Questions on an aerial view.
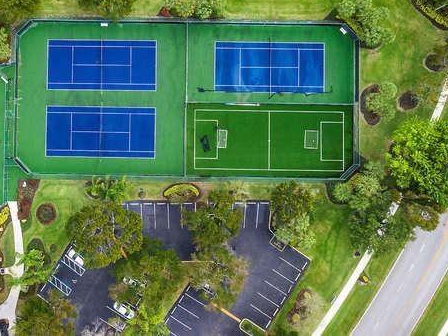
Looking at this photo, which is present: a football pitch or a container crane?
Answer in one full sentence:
The image shows a football pitch.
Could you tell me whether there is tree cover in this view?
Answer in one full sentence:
Yes, there's tree cover in this view.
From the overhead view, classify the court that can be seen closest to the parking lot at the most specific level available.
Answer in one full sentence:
The court that can be seen closest to the parking lot is a tennis court.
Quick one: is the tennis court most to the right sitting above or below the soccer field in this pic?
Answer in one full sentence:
Looking at the photo, you'll find the tennis court most to the right above the soccer field.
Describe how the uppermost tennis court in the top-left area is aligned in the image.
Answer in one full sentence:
From this overhead view, the uppermost tennis court in the top-left area appears to run from side to side.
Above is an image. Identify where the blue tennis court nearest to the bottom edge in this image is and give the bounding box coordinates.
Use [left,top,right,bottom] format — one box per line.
[46,106,155,159]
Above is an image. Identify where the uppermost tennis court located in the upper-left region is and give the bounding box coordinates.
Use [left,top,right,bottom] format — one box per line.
[47,40,157,91]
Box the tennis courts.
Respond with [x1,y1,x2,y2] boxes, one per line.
[46,106,155,159]
[47,40,157,91]
[215,42,325,93]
